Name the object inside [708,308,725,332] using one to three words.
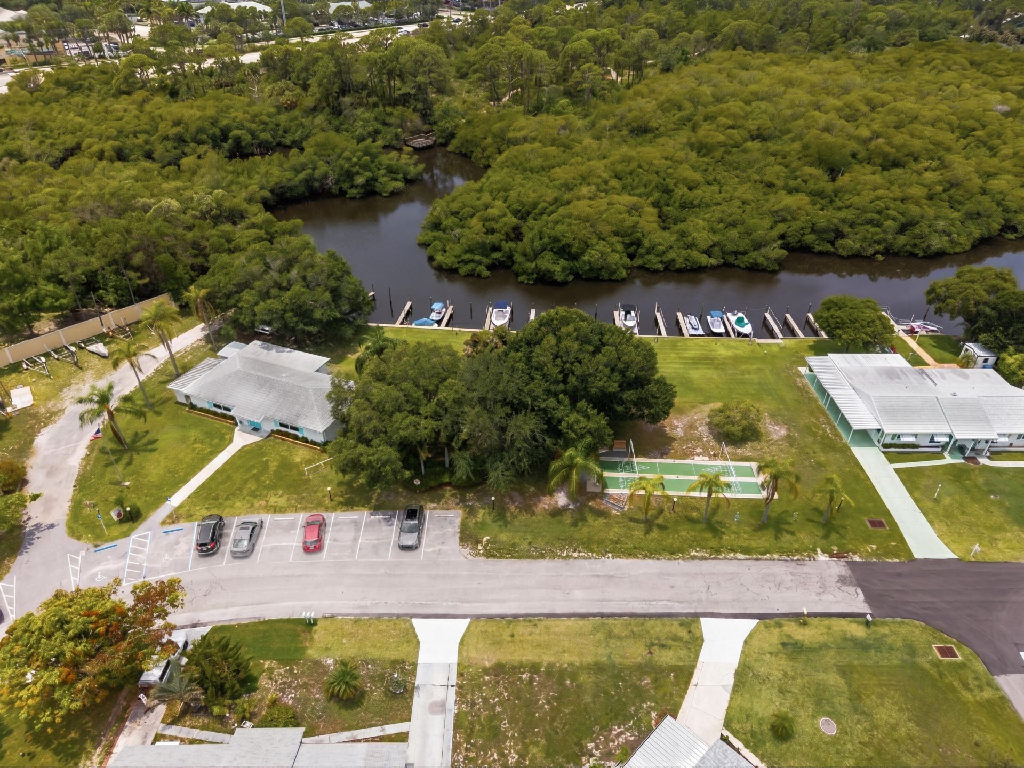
boat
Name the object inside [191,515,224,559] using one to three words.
car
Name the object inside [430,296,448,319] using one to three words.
boat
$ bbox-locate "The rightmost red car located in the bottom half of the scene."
[301,513,328,552]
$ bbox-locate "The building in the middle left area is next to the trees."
[167,340,344,442]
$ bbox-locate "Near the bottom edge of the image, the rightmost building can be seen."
[621,713,751,768]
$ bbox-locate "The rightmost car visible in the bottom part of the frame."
[397,502,426,548]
